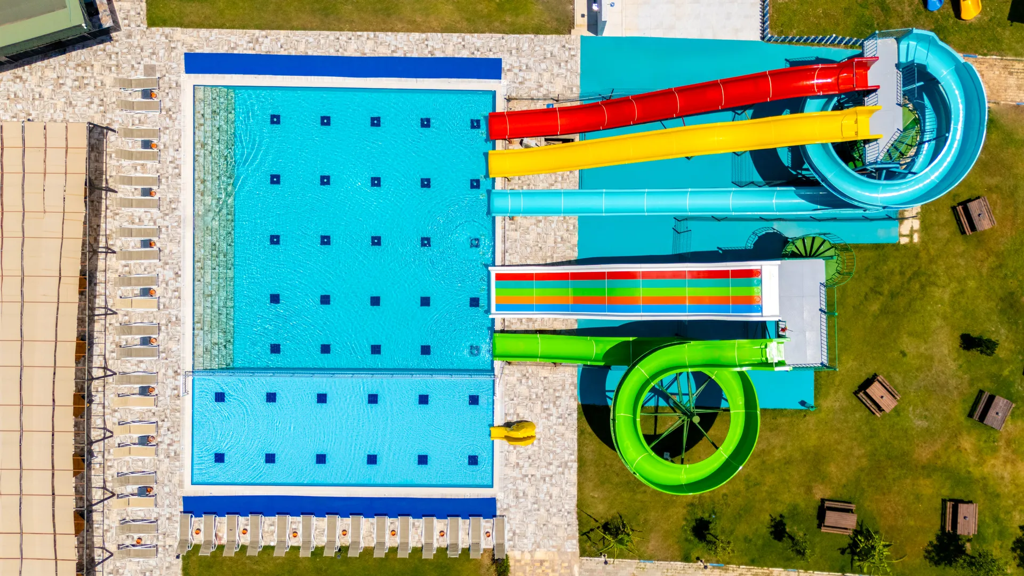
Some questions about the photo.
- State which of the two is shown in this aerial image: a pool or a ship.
pool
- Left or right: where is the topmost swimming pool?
left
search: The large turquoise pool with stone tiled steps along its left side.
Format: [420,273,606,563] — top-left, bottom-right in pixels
[179,75,508,377]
